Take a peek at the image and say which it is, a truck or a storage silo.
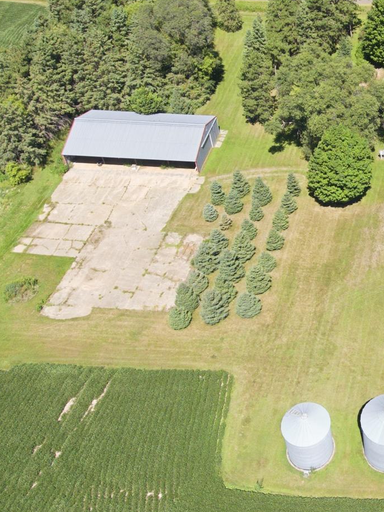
storage silo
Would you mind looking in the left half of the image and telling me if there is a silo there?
No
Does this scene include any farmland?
Yes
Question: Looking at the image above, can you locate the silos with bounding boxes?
[362,395,384,473]
[284,402,338,476]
